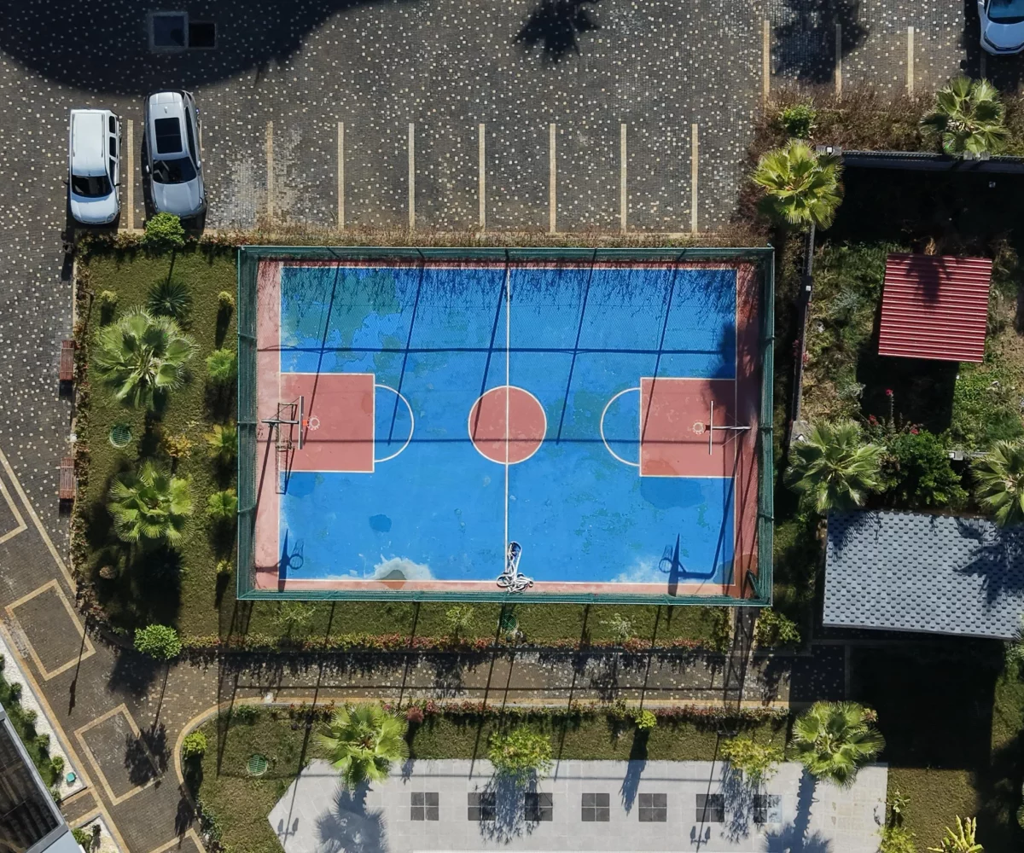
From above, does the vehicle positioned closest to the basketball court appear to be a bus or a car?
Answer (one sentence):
From above, the vehicle positioned closest to the basketball court can be identified as a car.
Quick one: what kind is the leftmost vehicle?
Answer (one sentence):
The leftmost vehicle is a car.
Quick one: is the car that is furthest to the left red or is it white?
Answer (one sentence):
The car that is furthest to the left is white.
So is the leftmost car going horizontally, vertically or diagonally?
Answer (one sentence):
In this picture, the leftmost car lies vertically.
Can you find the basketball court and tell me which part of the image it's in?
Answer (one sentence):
Look in the center portion of the view to spot the basketball court.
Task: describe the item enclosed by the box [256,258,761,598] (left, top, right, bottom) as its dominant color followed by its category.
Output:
blue basketball court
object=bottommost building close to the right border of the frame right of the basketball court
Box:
[819,509,1024,640]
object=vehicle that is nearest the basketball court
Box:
[145,92,207,219]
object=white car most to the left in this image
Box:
[63,109,123,226]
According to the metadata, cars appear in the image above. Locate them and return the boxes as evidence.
[976,0,1024,55]
[63,109,123,226]
[145,92,207,219]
